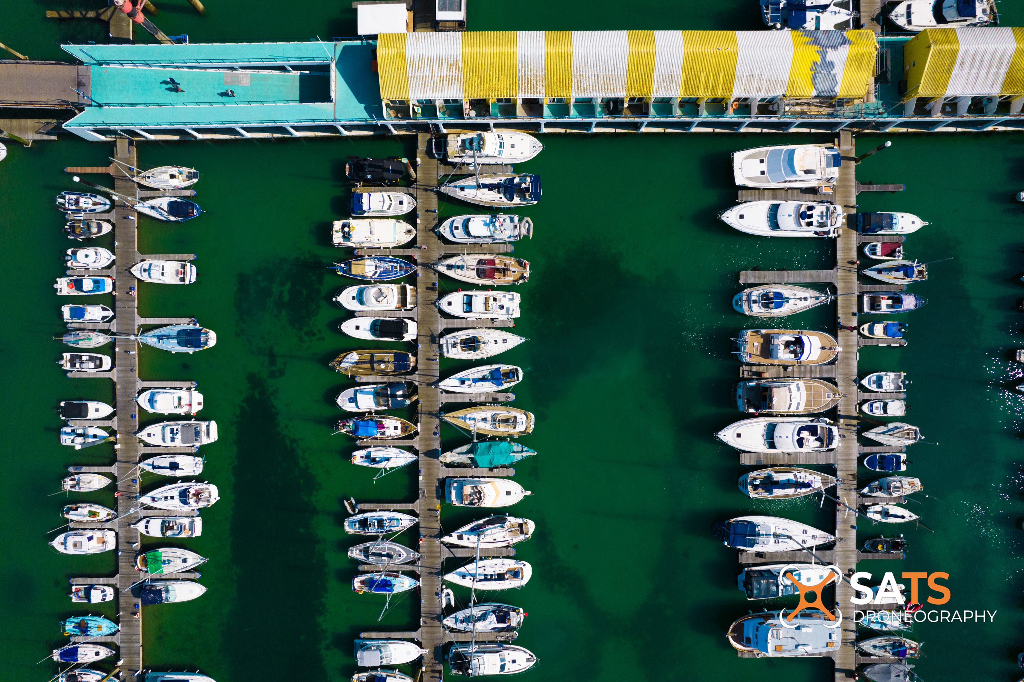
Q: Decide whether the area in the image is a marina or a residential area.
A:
marina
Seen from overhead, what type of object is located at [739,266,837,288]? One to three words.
pier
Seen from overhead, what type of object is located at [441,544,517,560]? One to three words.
pier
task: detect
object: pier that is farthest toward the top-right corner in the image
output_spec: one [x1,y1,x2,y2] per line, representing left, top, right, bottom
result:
[859,0,881,36]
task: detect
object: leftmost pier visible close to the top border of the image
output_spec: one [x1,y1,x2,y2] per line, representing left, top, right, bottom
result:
[47,0,134,42]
